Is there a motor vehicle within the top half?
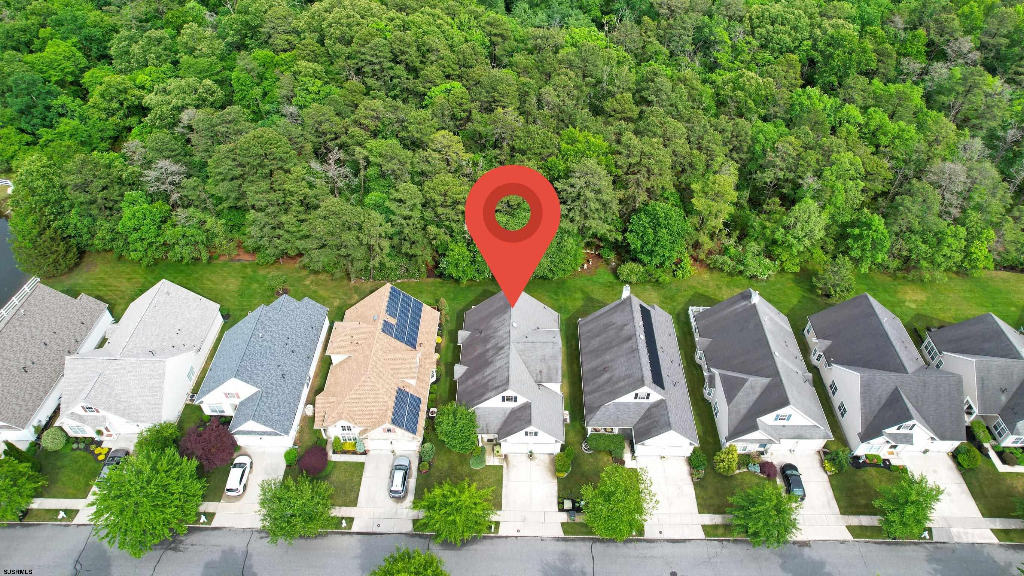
No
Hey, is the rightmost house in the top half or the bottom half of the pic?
bottom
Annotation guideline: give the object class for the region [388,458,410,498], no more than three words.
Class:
car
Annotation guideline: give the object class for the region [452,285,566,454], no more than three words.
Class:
house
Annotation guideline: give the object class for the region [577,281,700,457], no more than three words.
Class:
house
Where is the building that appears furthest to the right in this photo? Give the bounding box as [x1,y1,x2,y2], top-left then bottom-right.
[923,312,1024,448]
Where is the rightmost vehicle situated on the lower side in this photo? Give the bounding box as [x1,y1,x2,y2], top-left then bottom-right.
[778,463,809,504]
